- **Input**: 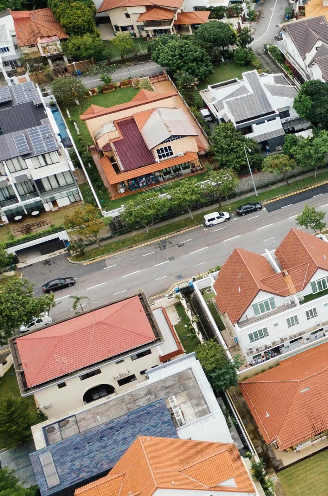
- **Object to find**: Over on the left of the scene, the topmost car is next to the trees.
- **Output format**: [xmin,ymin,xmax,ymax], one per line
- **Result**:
[42,274,77,289]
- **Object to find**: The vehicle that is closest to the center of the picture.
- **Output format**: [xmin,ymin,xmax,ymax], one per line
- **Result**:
[200,205,234,225]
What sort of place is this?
residential area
